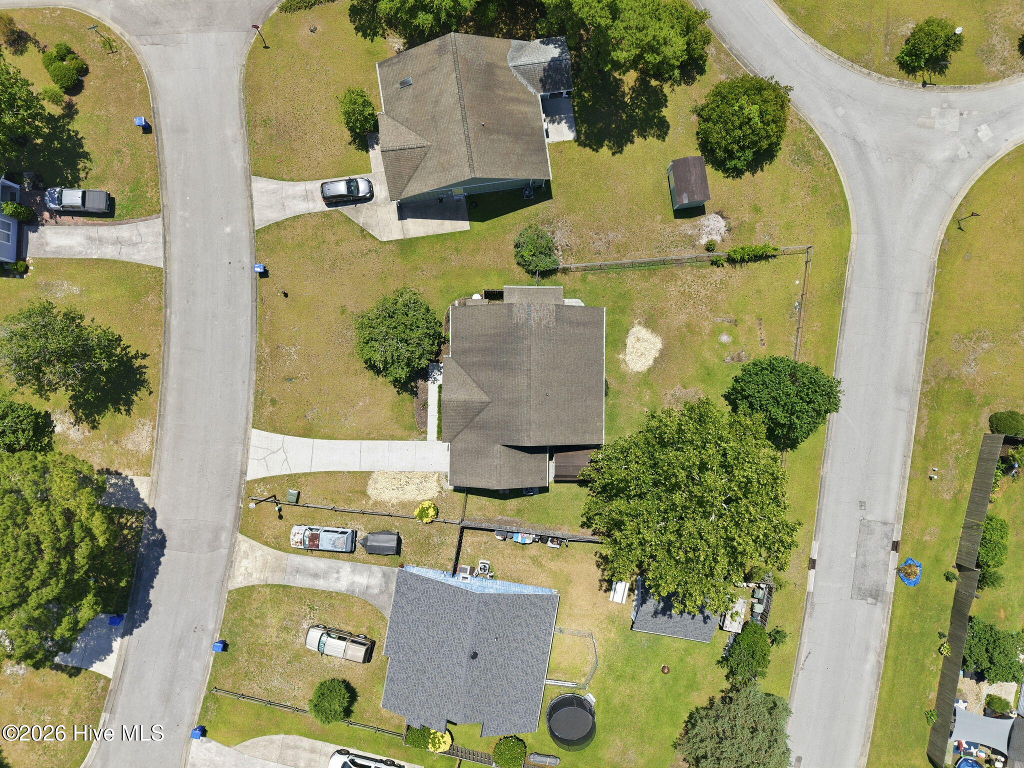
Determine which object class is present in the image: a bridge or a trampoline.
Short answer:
trampoline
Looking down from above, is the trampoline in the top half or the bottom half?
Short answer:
bottom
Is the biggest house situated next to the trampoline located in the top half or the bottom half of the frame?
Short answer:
bottom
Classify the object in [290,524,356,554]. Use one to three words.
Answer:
car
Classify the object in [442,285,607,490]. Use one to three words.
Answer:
house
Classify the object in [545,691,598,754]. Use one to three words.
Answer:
trampoline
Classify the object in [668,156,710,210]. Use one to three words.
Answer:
shed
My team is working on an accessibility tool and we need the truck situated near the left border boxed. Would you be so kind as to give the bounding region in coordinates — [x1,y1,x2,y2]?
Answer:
[45,185,116,214]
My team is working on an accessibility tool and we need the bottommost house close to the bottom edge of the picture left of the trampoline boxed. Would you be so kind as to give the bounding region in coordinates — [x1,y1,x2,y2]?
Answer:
[381,566,559,737]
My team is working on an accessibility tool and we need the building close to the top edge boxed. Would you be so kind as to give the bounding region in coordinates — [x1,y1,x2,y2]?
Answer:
[376,33,579,206]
